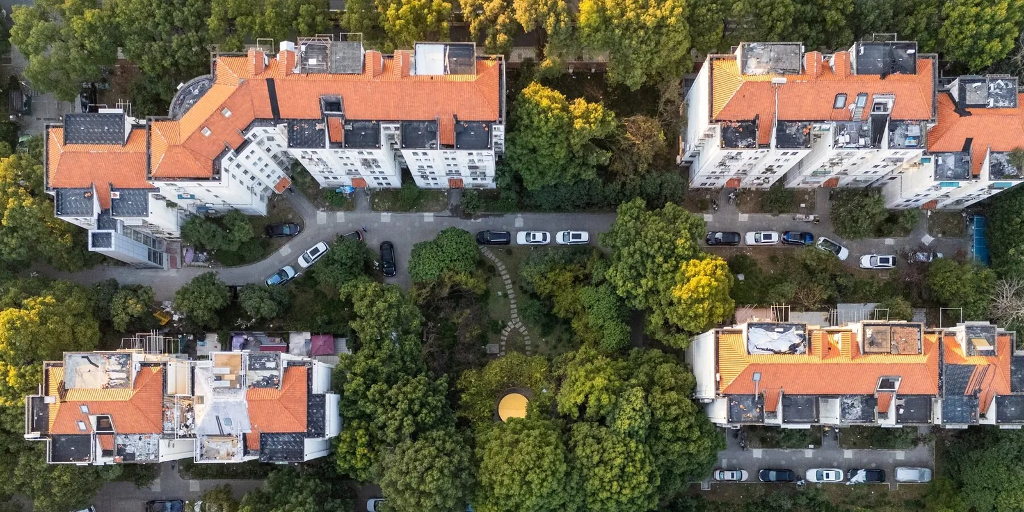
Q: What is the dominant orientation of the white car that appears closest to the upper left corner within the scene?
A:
at an angle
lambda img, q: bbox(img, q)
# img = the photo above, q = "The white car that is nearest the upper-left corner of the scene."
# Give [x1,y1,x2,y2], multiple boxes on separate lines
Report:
[298,241,327,267]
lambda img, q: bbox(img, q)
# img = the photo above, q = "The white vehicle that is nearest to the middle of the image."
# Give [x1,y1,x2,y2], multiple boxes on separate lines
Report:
[518,230,550,246]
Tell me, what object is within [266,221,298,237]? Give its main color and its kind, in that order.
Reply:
black car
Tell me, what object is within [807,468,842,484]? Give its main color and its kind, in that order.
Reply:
white car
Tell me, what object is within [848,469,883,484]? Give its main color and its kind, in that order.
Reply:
black car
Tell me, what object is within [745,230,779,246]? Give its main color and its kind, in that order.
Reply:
white car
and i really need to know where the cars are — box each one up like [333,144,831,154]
[82,83,99,113]
[715,468,746,483]
[759,468,793,483]
[479,230,510,246]
[815,236,846,260]
[518,230,550,246]
[380,241,396,276]
[557,230,588,245]
[335,232,367,245]
[781,230,812,246]
[364,500,395,512]
[745,230,779,246]
[266,221,298,237]
[848,469,883,484]
[859,253,895,269]
[267,265,295,286]
[148,499,183,512]
[807,468,842,484]
[706,230,739,246]
[298,241,327,267]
